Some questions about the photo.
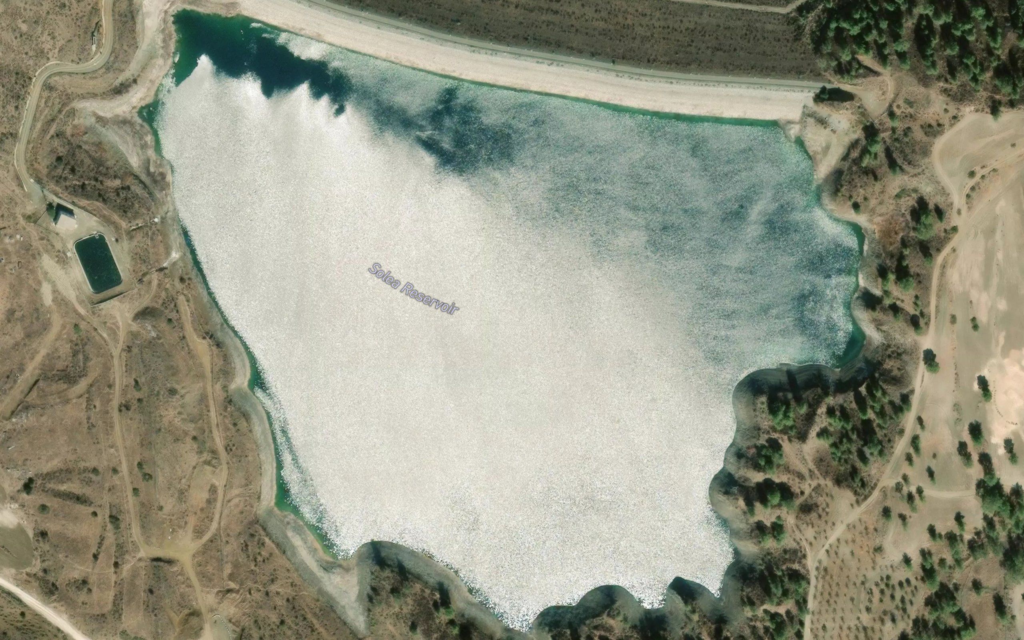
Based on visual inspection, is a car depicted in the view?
No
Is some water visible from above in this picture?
Yes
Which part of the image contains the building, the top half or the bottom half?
top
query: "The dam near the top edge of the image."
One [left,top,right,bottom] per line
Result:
[226,0,826,141]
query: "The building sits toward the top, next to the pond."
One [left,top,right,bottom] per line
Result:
[55,210,78,231]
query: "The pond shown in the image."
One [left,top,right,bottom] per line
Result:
[73,232,123,294]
